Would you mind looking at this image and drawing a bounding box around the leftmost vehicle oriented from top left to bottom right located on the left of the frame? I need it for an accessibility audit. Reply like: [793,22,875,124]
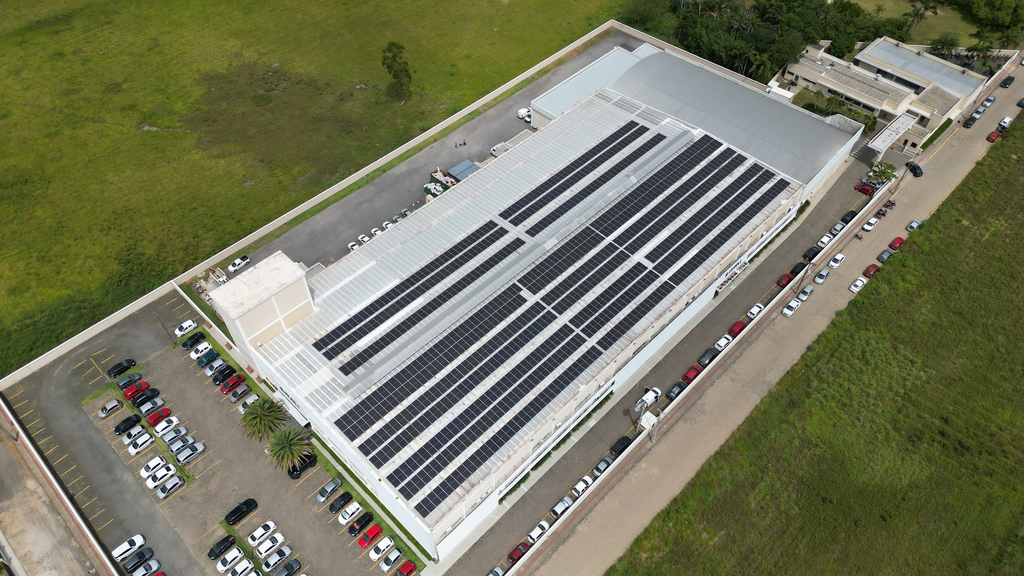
[209,265,230,285]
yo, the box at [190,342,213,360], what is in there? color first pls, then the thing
white car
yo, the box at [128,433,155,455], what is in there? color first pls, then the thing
white car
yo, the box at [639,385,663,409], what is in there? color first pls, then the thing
white truck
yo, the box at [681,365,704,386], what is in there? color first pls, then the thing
red car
